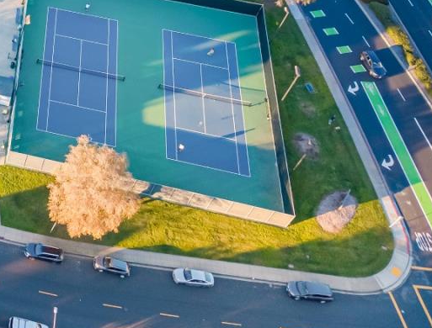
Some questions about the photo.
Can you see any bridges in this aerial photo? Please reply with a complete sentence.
No, there isn't any bridge down there.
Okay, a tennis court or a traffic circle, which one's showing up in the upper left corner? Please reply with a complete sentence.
The one visible in the upper left corner is a tennis court.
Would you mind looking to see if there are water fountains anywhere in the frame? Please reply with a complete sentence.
No, I find no water fountain anywhere in the image.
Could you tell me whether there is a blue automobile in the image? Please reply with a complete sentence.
Yes, this view includes a blue automobile.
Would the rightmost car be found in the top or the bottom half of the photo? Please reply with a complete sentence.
It is in the top half that the rightmost car appears.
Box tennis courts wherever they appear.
[159,28,252,176]
[37,6,125,140]
[7,0,286,227]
